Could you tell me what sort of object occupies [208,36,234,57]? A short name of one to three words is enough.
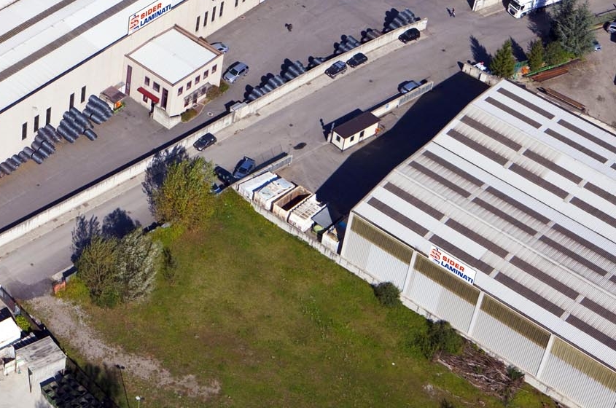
car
